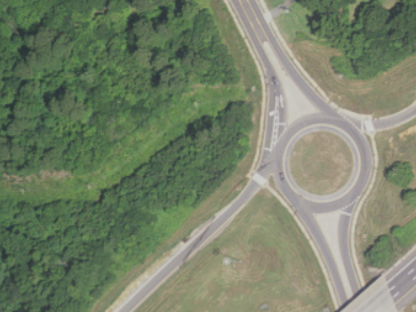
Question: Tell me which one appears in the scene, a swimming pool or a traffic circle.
traffic circle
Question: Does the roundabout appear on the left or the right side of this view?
right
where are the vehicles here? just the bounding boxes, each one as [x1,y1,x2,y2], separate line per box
[278,172,284,182]
[277,6,286,10]
[271,76,277,86]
